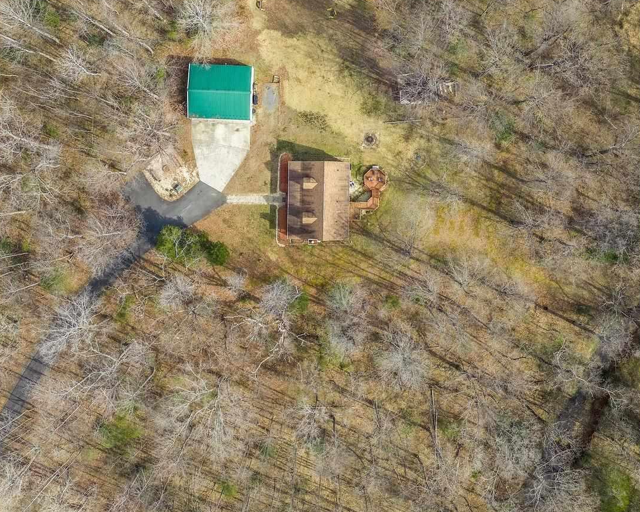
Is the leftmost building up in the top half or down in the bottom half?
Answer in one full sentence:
You can find the leftmost building in the top half.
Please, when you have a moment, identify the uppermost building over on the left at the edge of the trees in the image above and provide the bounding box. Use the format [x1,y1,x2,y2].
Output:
[186,62,255,121]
